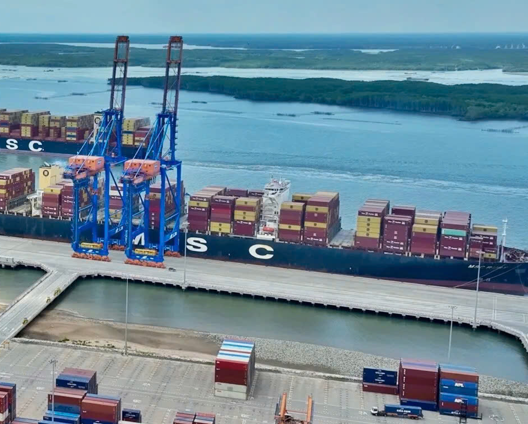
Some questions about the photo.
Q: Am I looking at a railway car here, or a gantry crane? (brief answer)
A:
gantry crane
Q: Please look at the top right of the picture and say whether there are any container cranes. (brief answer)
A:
No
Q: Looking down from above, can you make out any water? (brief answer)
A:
Yes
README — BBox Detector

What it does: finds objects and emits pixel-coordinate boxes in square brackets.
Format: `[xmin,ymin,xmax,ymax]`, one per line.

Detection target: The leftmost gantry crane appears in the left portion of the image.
[62,31,131,262]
